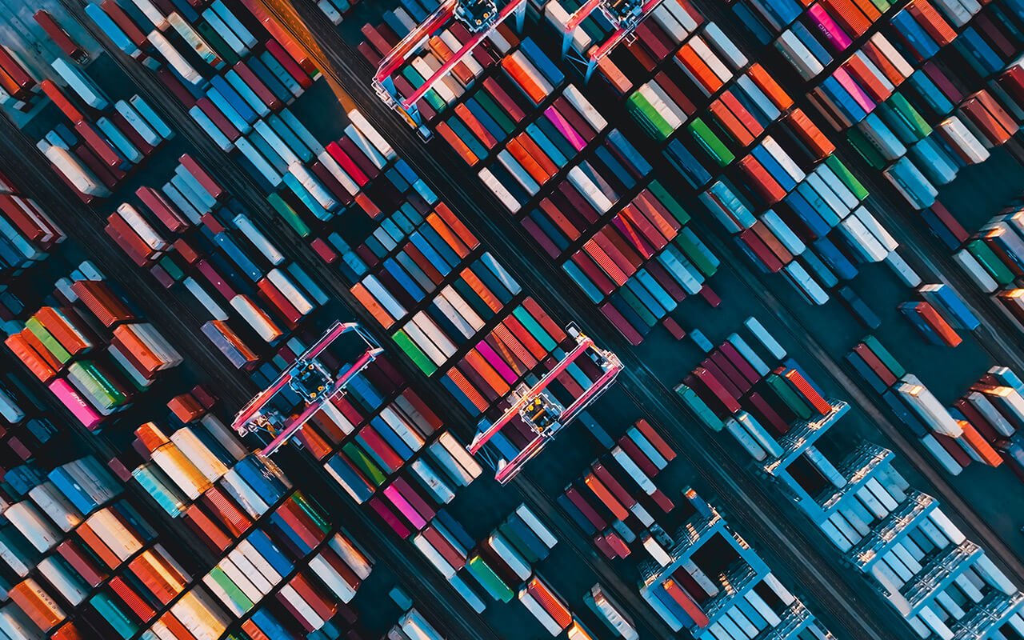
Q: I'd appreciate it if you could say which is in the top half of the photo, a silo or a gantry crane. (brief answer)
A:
gantry crane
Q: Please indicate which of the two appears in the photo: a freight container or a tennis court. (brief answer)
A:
freight container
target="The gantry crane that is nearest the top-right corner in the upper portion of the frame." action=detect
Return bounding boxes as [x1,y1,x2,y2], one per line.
[557,0,662,89]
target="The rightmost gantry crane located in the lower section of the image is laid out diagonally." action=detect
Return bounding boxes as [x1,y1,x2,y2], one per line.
[468,321,621,483]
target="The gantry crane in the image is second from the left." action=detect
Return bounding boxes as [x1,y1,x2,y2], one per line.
[372,0,525,139]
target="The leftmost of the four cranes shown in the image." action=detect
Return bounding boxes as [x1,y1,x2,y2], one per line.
[233,317,396,470]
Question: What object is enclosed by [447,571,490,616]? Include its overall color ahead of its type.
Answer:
blue shipping container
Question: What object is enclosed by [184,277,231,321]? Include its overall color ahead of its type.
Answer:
blue shipping container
